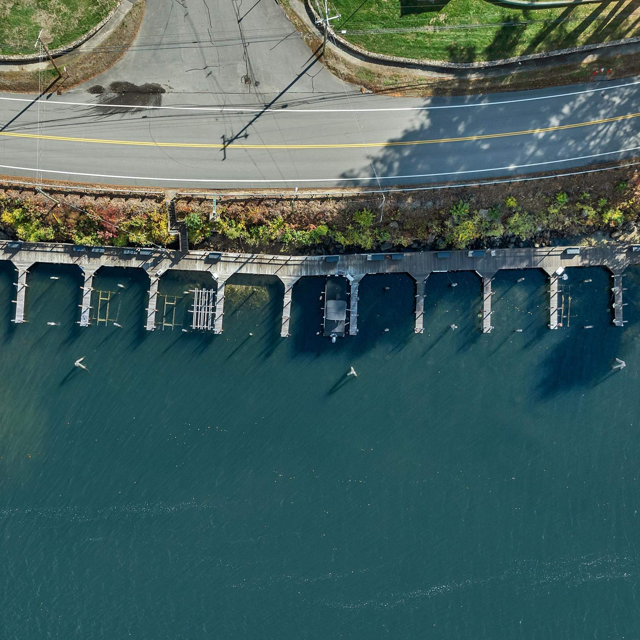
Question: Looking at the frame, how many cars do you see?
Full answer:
Not a single car can be seen.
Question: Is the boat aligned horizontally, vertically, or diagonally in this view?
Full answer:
In this picture, the boat is oriented vertically.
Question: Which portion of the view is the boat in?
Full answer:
You can find the boat in the center area of the picture.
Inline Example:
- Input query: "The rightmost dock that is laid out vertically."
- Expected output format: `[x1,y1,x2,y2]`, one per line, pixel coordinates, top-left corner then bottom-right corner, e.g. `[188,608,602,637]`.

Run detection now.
[605,264,629,327]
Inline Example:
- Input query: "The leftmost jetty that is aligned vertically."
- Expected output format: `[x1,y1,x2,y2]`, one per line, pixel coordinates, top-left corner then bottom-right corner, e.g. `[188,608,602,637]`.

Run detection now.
[10,261,36,323]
